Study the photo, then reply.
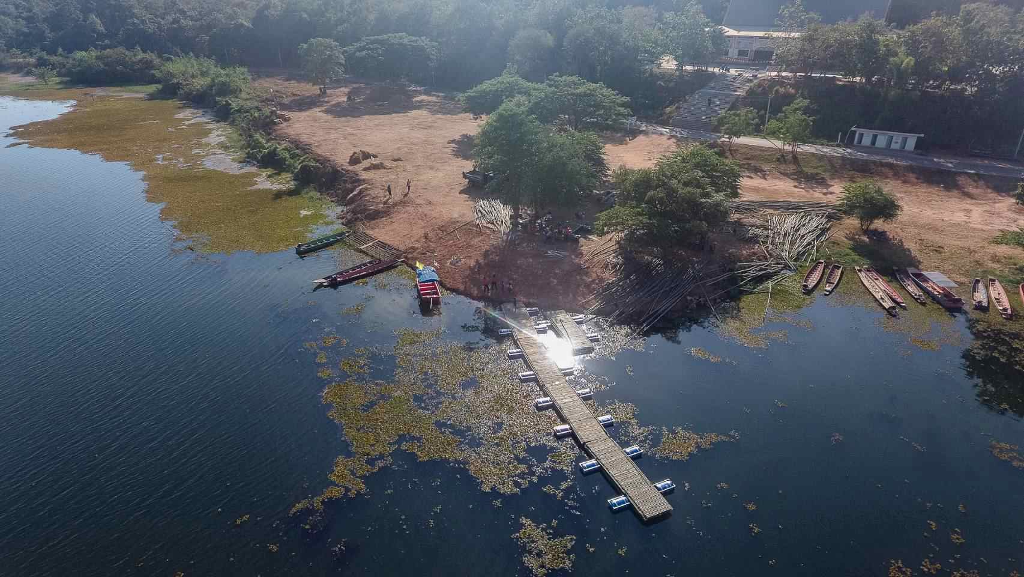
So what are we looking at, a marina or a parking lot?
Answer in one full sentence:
This looks like a marina.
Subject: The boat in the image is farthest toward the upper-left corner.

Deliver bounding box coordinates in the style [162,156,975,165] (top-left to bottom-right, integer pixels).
[289,231,349,255]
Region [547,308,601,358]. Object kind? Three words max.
pier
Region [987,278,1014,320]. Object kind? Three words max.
boat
